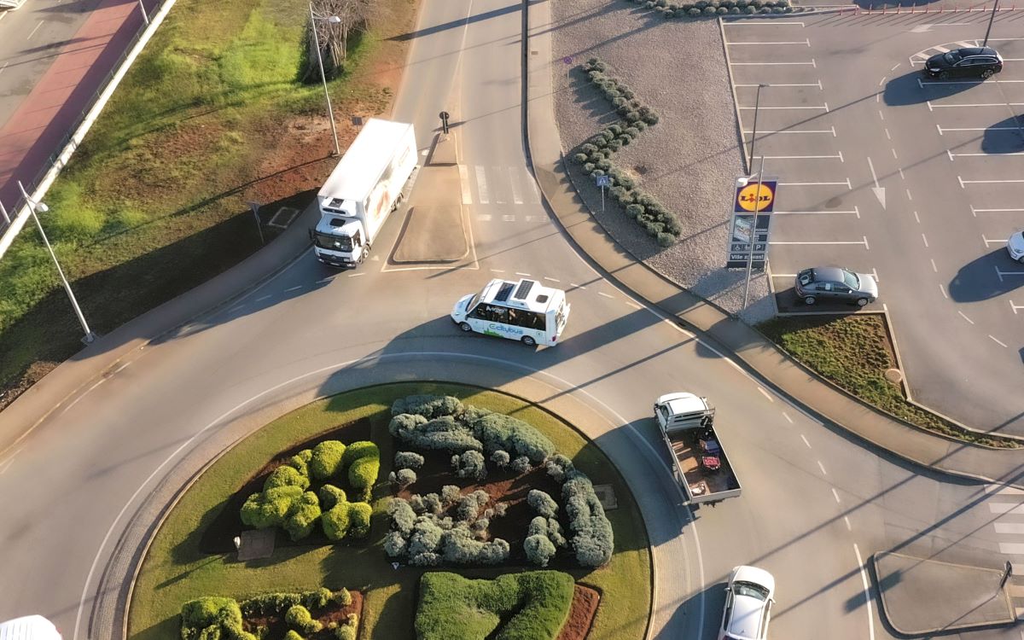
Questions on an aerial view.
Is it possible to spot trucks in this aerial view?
Yes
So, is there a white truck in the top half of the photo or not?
Yes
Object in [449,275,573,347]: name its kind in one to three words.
vehicle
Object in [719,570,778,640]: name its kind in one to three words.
car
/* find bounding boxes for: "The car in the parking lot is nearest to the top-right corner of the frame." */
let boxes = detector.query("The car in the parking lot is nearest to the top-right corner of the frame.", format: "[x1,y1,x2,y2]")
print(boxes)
[925,46,1005,79]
